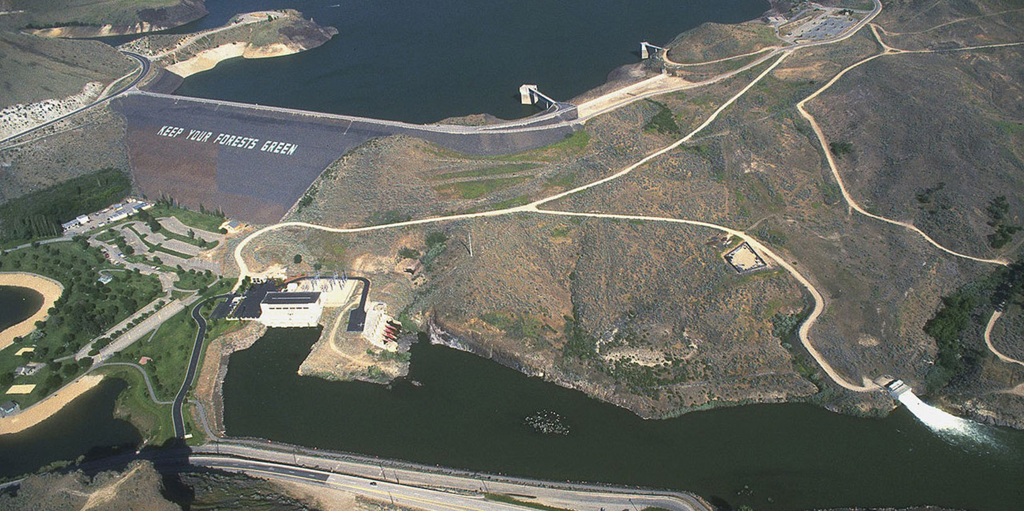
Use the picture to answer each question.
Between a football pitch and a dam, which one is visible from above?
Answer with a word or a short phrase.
dam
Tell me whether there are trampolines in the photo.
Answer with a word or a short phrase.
No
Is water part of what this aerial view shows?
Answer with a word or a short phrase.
Yes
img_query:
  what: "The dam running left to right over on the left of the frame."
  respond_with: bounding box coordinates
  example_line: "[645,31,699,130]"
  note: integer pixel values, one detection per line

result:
[113,92,585,223]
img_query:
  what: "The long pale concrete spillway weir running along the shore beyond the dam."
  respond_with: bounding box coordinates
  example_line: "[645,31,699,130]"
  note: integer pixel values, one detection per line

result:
[575,68,675,114]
